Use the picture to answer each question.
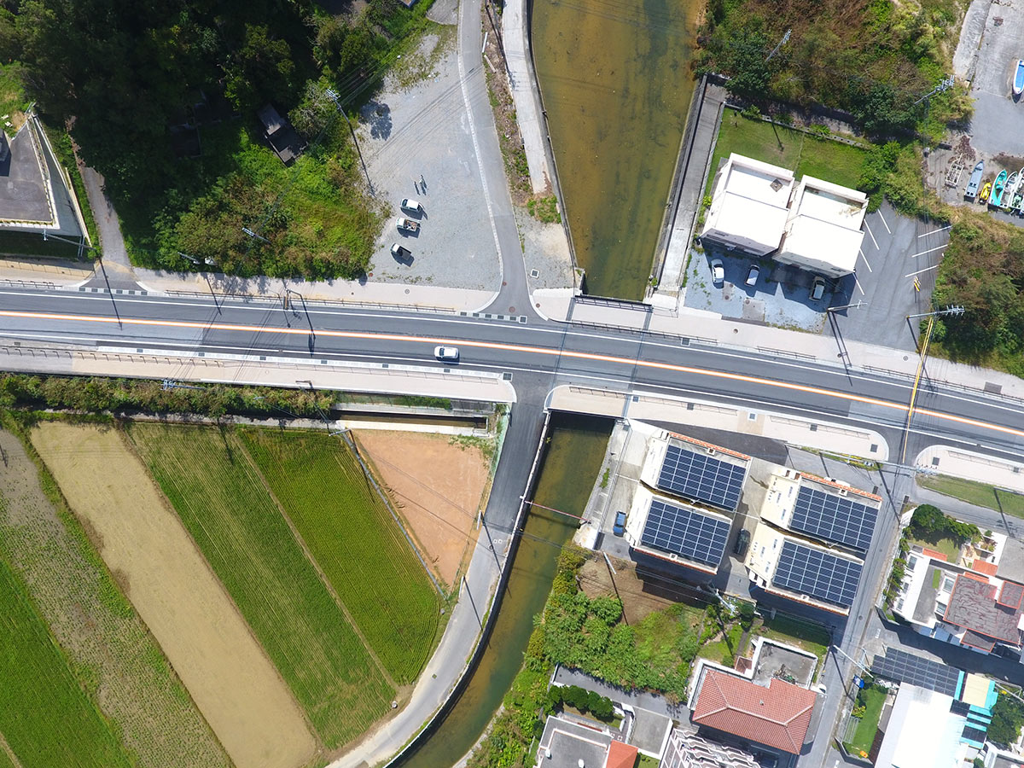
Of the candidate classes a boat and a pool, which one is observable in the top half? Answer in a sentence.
Visible in the top half is a boat.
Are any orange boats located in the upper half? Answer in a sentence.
No, looking in the upper half, there is no orange boat.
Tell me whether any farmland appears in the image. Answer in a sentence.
Yes, there's farmland in this view.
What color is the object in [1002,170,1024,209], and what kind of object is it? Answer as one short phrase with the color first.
white boat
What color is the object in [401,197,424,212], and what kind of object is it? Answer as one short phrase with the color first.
white vehicle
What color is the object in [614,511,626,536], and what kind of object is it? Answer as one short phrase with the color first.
blue vehicle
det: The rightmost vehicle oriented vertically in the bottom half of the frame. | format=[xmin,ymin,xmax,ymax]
[736,530,751,558]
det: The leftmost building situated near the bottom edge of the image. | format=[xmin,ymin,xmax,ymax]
[523,706,638,768]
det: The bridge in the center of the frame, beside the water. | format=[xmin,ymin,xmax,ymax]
[548,293,654,421]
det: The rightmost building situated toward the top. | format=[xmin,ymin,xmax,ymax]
[767,176,866,280]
